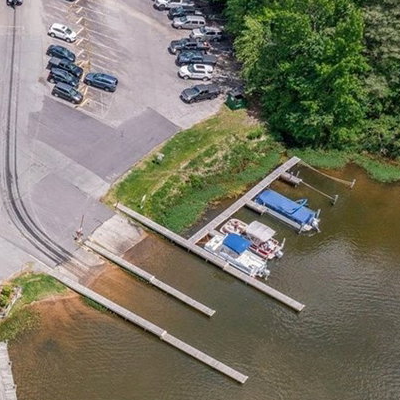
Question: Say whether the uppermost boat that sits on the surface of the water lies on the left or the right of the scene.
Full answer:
The uppermost boat that sits on the surface of the water is on the right side of the image.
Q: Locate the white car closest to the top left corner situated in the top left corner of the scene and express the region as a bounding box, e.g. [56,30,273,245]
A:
[46,21,79,42]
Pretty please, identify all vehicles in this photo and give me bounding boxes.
[44,55,86,78]
[44,44,77,60]
[45,64,81,87]
[189,24,226,40]
[178,80,225,102]
[154,0,195,10]
[174,49,221,67]
[167,36,212,54]
[177,63,216,81]
[171,13,208,31]
[82,70,121,92]
[46,21,79,42]
[49,79,86,104]
[166,4,208,20]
